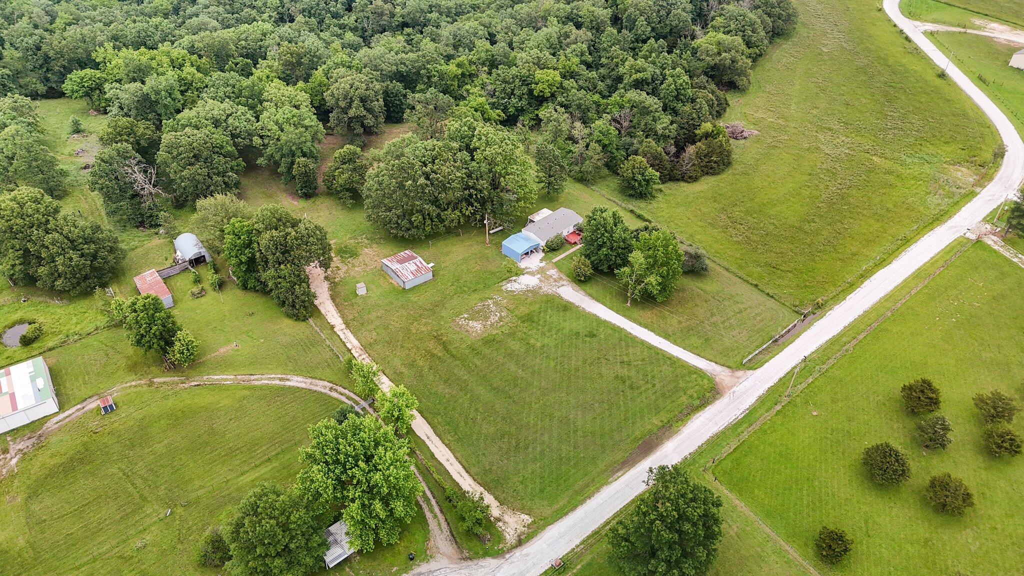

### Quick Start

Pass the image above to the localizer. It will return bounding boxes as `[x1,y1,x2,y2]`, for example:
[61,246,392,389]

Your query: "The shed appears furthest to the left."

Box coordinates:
[0,352,59,433]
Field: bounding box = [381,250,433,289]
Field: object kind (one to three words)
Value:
shed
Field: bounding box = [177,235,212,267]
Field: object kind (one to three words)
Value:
barn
